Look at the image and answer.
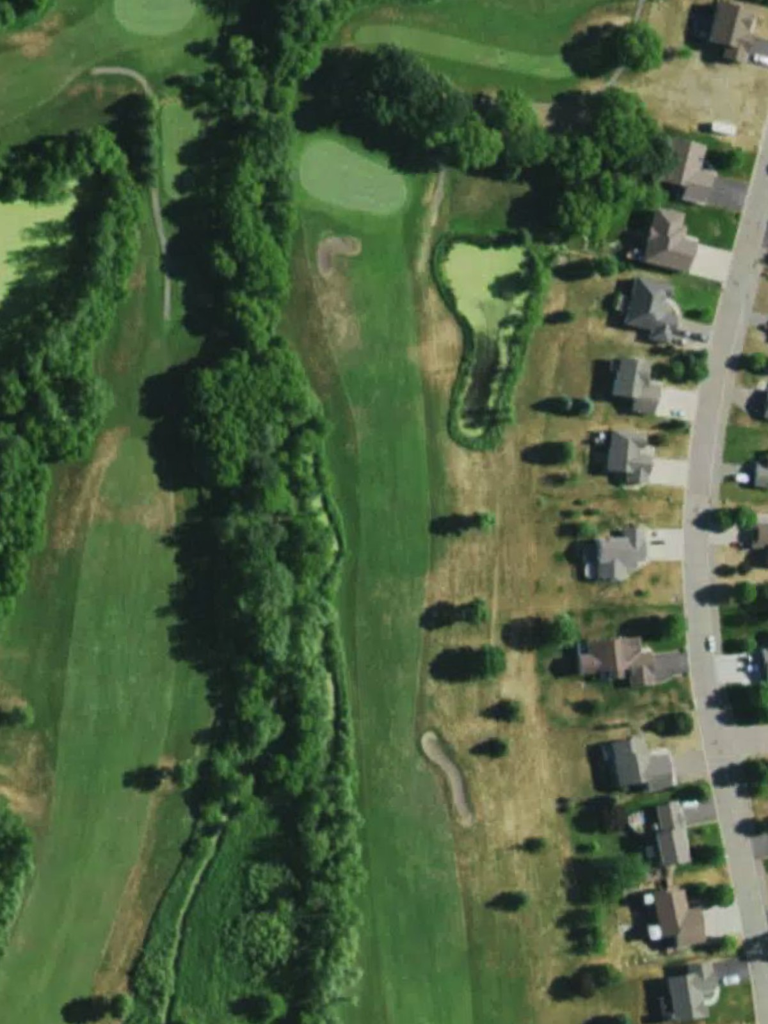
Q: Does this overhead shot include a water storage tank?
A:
No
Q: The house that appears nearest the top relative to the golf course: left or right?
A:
right of it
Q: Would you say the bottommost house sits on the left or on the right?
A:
right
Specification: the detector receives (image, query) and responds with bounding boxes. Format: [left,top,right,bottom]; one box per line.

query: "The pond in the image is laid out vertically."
[444,242,536,439]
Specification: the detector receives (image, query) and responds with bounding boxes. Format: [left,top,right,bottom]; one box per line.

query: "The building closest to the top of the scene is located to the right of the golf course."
[711,0,766,61]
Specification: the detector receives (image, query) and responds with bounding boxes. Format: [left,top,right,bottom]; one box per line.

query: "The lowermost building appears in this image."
[657,962,720,1024]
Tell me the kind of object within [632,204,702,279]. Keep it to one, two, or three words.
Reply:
house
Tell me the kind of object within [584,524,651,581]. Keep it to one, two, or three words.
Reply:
house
